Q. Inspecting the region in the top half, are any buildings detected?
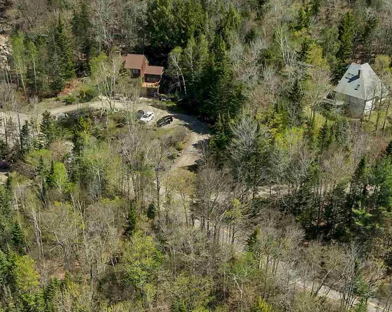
Yes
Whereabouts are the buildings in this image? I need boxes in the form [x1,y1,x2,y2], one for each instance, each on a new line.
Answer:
[328,61,390,115]
[124,57,163,88]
